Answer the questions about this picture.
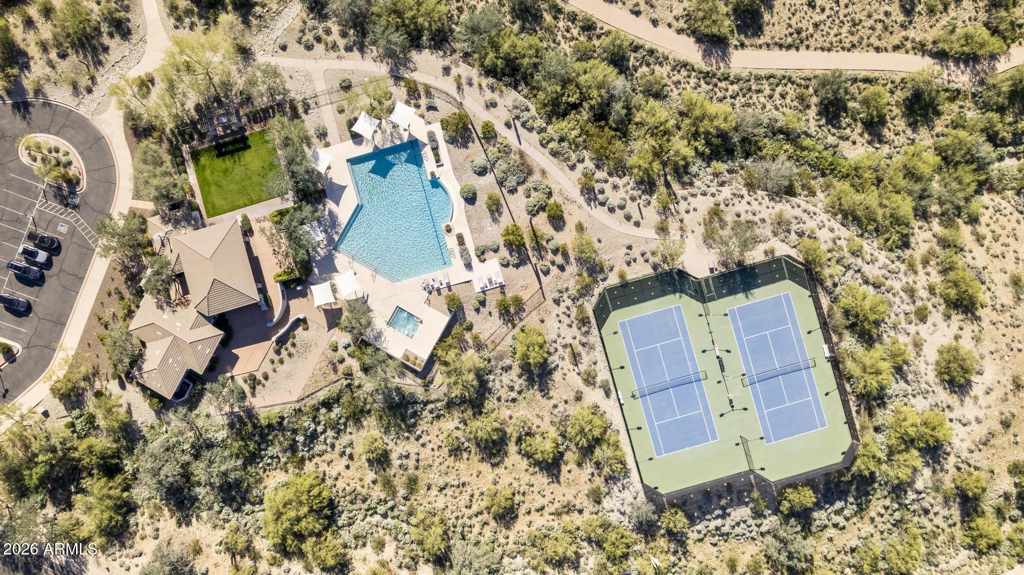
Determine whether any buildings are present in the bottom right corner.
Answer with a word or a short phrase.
No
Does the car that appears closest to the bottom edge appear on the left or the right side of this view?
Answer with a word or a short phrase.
left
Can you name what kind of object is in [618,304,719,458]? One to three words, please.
tennis court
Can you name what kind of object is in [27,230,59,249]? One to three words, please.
car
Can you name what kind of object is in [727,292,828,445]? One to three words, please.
tennis court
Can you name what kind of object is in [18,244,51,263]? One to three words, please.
car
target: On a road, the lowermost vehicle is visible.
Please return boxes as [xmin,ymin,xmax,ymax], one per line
[0,291,29,311]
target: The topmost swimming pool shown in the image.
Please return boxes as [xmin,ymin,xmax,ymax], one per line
[334,139,453,283]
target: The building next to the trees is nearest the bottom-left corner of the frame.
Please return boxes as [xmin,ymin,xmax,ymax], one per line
[128,214,262,399]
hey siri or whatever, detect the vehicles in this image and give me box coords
[18,244,51,263]
[7,260,42,280]
[0,291,29,311]
[27,230,59,249]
